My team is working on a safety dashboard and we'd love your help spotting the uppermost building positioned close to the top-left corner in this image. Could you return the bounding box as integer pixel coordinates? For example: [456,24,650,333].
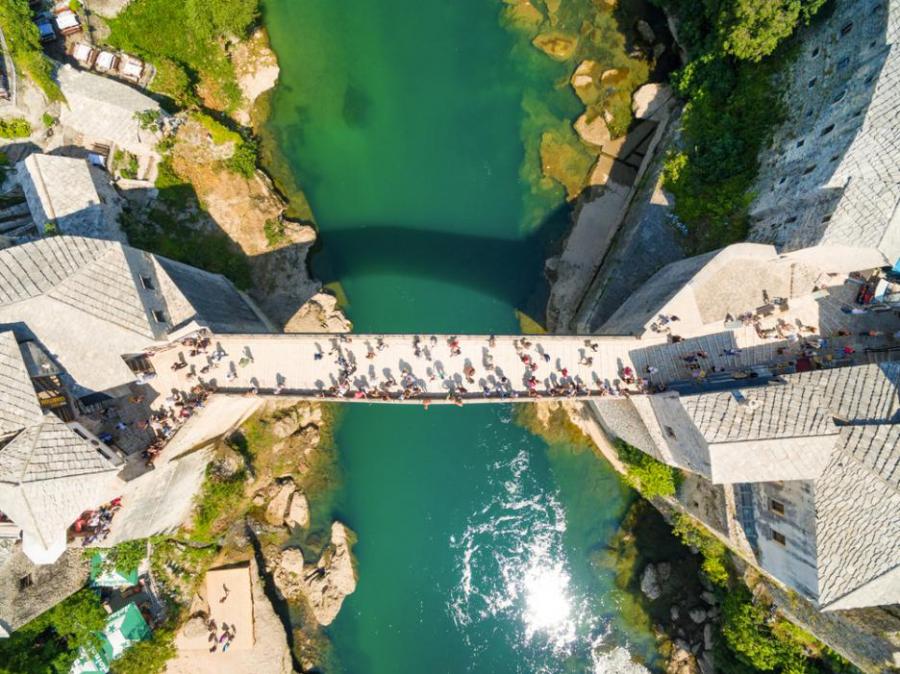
[57,66,175,149]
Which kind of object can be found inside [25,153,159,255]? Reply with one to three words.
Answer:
house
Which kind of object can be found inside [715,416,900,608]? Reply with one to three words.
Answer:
house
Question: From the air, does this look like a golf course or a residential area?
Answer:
residential area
